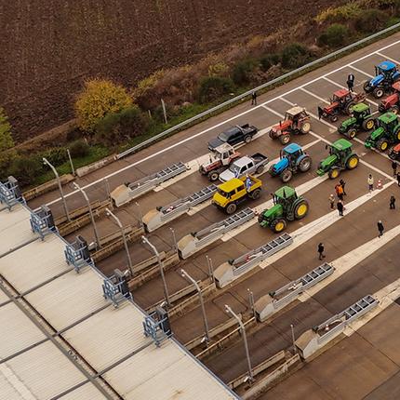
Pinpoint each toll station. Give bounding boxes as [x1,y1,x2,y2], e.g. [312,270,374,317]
[0,179,243,400]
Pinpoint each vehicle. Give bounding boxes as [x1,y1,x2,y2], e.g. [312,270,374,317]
[313,136,363,181]
[265,141,315,186]
[312,87,371,128]
[270,107,312,145]
[256,183,312,235]
[195,140,244,181]
[379,80,400,116]
[362,113,400,153]
[217,151,273,181]
[364,60,400,100]
[337,103,378,141]
[206,121,259,153]
[206,173,264,214]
